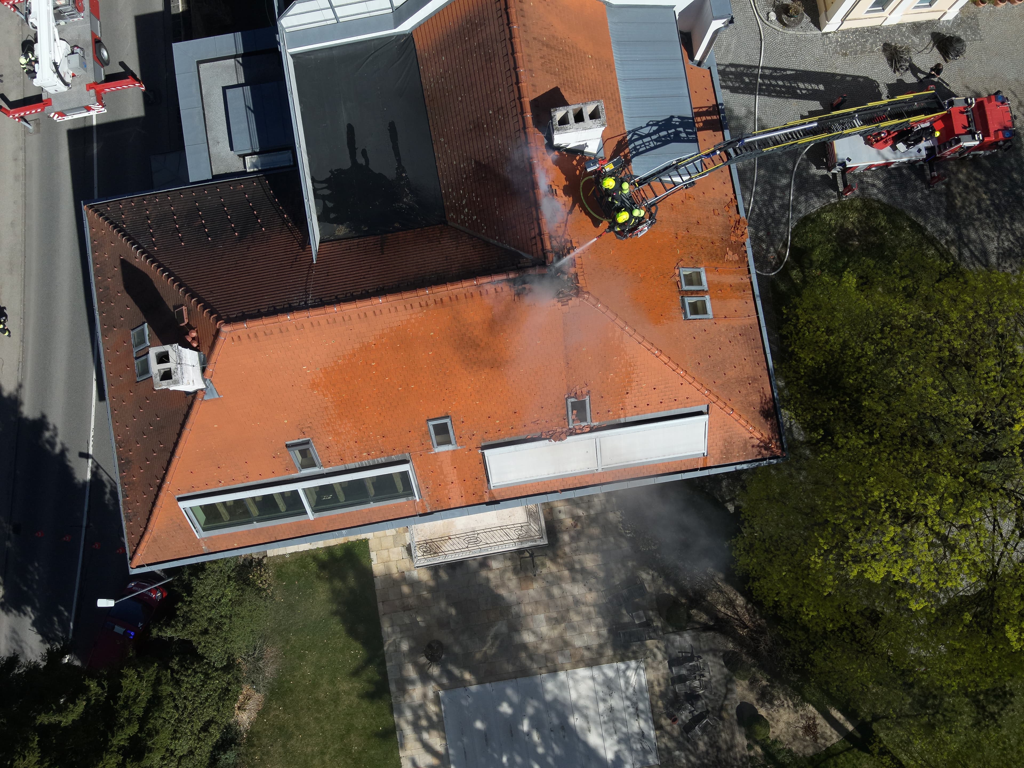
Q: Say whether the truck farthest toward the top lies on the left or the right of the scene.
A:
left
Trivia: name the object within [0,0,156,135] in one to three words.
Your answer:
truck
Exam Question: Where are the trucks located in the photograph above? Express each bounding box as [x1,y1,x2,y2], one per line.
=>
[0,0,156,135]
[585,73,1024,242]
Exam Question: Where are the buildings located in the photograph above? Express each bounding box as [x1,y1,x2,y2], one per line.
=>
[76,0,795,575]
[818,0,973,35]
